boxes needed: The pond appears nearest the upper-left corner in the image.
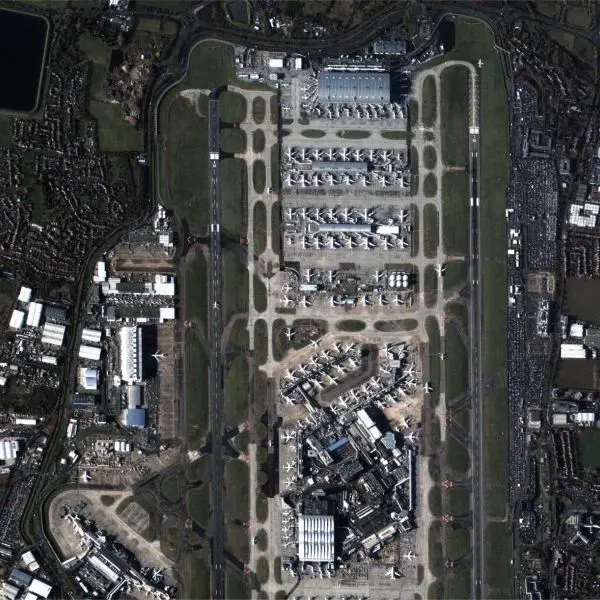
[0,9,47,111]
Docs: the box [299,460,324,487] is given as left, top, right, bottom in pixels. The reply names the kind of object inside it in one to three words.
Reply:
building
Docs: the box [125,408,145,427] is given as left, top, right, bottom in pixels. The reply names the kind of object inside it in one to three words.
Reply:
hangar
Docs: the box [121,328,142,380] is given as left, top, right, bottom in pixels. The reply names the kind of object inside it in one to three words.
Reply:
hangar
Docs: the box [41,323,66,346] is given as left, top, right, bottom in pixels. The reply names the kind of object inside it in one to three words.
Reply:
building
